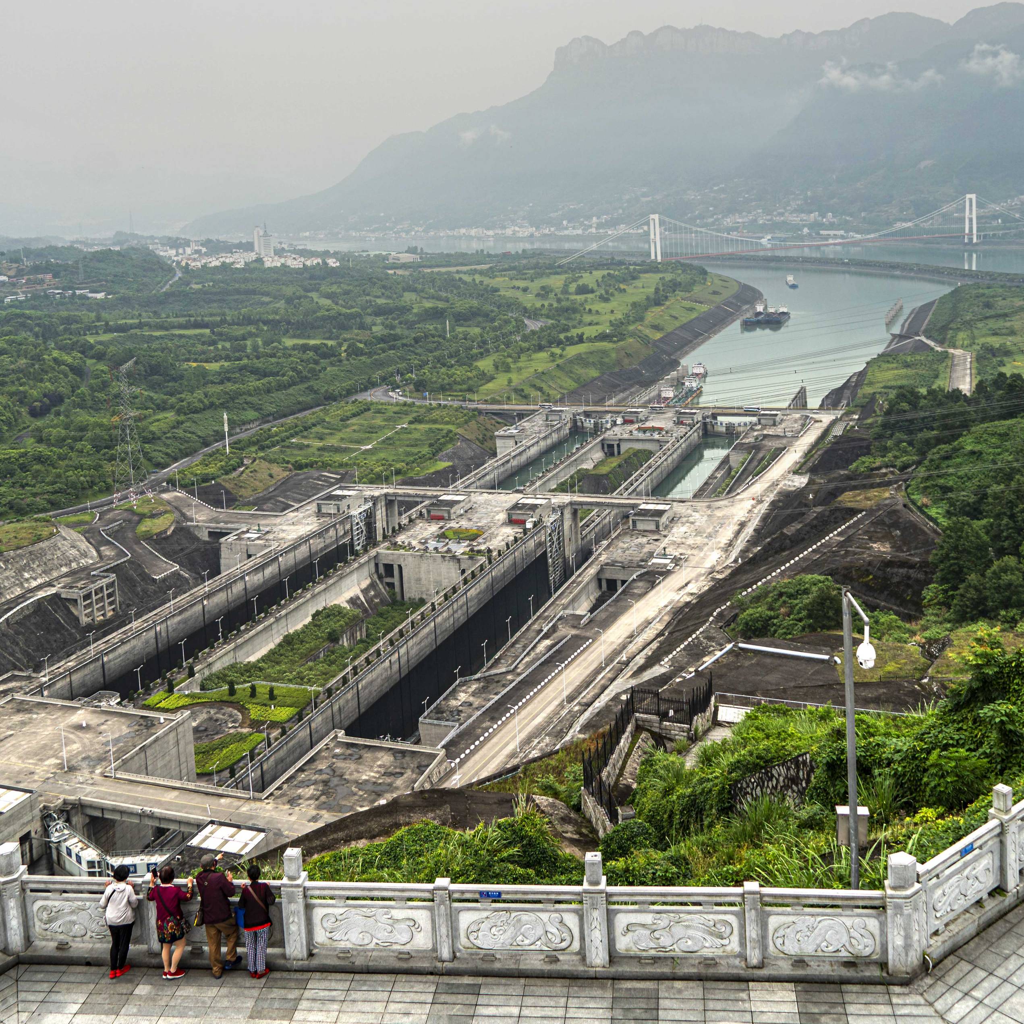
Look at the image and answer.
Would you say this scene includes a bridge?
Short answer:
Yes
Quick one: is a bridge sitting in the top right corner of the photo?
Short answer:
Yes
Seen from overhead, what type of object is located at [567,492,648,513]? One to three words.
bridge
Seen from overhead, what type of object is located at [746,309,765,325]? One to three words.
ship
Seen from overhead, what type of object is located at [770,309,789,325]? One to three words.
ship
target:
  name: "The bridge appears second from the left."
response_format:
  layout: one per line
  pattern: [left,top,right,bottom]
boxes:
[388,484,463,502]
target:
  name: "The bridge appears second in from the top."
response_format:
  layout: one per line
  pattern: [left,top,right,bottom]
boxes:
[493,402,845,424]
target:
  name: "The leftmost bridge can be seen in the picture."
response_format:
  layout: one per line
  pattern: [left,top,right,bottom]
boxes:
[71,769,259,832]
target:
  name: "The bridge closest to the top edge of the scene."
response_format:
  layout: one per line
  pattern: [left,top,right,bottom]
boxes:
[524,195,1024,268]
